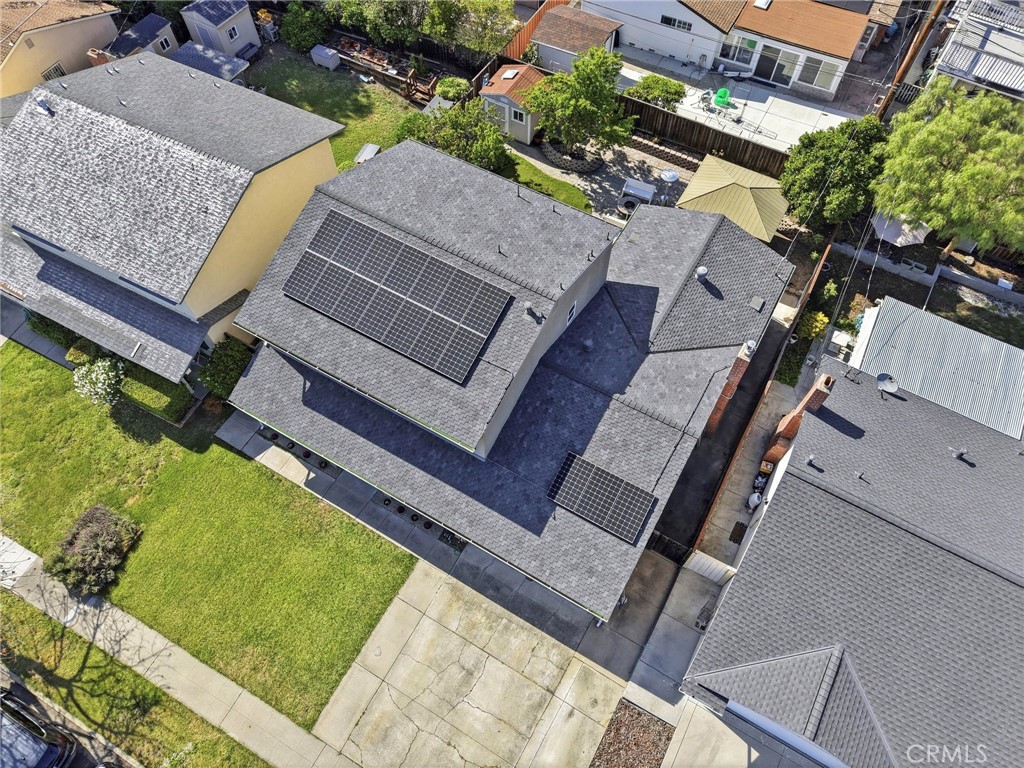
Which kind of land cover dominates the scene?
buildings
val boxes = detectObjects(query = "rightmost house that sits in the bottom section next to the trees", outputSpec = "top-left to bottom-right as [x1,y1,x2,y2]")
[676,297,1024,768]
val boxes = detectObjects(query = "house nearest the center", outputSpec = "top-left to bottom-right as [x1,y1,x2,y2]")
[225,139,798,625]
